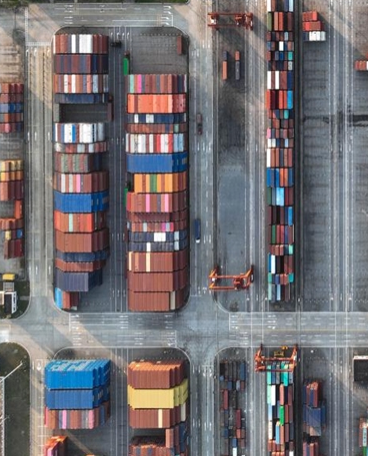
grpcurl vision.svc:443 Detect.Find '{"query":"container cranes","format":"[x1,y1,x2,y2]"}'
[206,264,253,292]
[254,340,299,373]
[206,12,253,33]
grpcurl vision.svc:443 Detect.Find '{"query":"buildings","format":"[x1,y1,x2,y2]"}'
[2,290,16,312]
[354,354,368,384]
